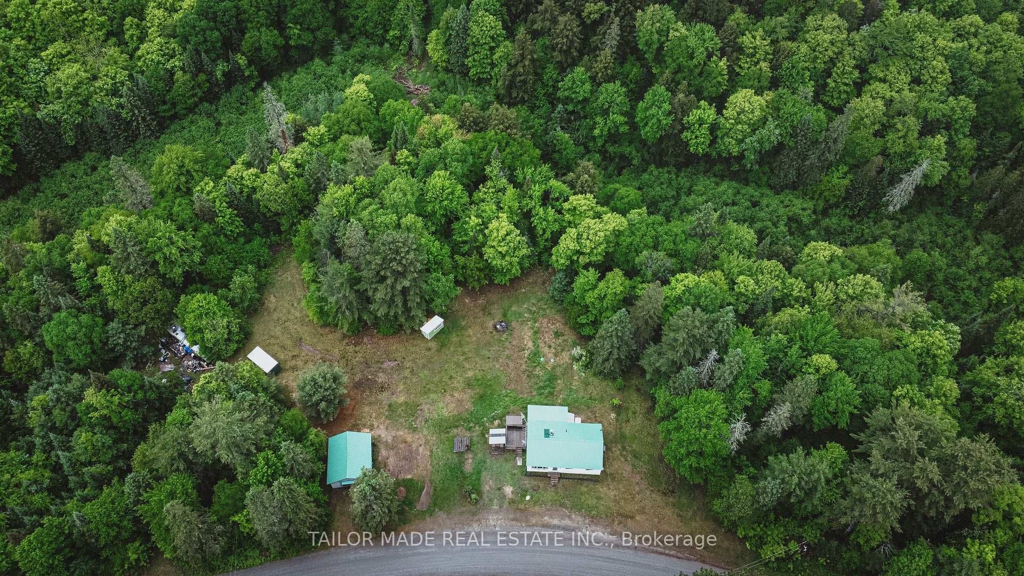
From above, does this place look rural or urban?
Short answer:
rural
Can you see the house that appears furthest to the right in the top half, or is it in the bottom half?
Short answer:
bottom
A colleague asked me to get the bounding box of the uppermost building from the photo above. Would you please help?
[422,314,445,340]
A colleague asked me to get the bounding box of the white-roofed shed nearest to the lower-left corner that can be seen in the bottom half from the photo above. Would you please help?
[248,346,282,373]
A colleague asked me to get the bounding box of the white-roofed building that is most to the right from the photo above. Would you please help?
[527,405,605,489]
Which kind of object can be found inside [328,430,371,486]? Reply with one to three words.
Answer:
building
